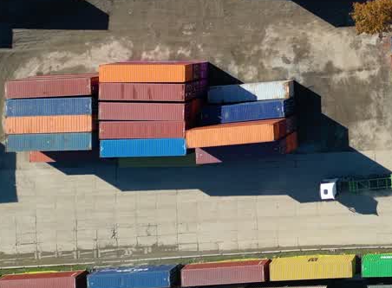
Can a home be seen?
No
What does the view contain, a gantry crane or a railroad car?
railroad car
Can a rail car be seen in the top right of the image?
No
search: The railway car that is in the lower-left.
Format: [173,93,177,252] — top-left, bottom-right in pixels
[6,264,180,287]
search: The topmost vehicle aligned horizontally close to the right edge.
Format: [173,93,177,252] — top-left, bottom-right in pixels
[313,173,392,205]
